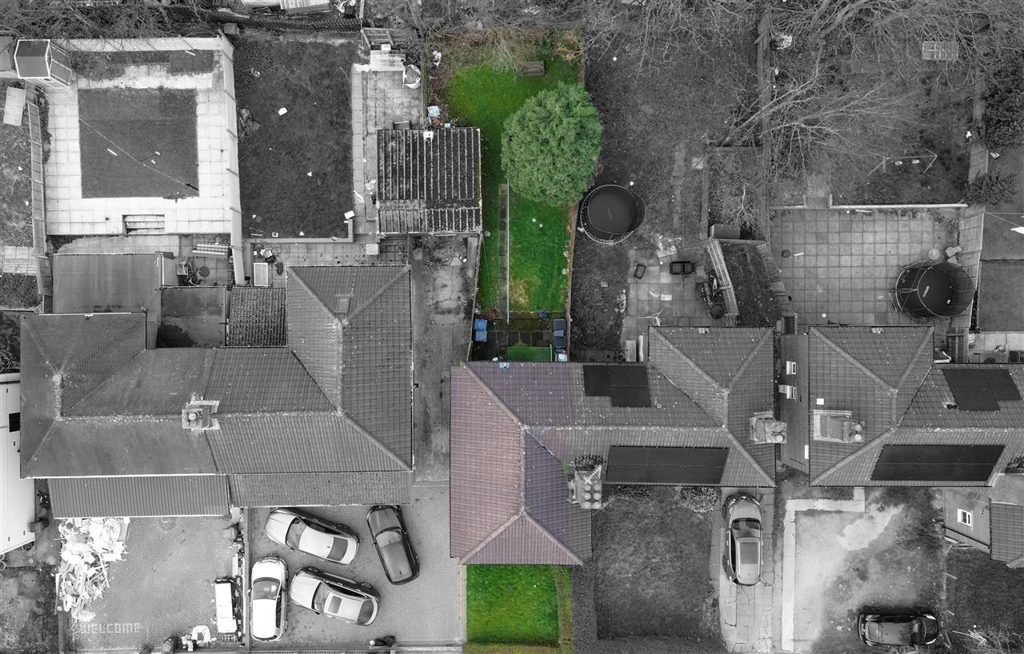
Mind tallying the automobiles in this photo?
6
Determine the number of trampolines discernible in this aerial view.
2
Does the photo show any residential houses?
Yes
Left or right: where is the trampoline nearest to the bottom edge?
right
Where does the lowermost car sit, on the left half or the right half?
right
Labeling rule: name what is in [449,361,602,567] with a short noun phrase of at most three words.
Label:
house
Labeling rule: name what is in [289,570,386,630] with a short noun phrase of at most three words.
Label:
car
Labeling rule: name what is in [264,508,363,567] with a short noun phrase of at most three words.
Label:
car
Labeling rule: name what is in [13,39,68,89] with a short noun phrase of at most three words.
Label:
shed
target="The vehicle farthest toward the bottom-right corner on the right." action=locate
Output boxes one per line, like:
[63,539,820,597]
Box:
[855,606,936,652]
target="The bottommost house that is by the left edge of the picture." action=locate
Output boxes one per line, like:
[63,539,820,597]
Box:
[19,254,233,518]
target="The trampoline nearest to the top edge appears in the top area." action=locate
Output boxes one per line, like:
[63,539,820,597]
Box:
[575,180,642,245]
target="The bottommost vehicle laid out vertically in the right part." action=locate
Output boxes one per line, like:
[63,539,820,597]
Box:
[721,492,768,588]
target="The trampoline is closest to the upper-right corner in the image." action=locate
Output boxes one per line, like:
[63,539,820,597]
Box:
[886,259,972,324]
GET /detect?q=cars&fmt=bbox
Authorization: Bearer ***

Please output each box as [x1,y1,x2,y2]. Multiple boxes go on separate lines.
[245,555,292,643]
[264,508,363,567]
[370,505,423,586]
[855,606,936,652]
[721,492,768,588]
[289,570,386,630]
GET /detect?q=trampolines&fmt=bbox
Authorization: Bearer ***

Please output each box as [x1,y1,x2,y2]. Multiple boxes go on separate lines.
[575,180,642,245]
[886,259,972,324]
